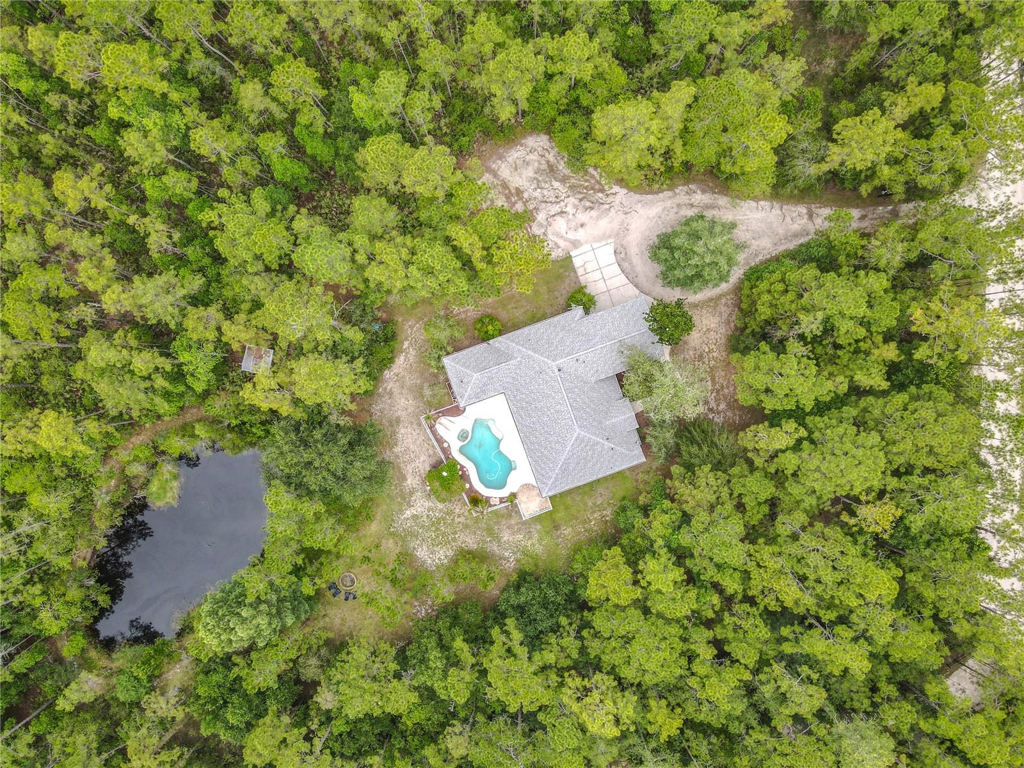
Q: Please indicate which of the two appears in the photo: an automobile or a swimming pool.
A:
swimming pool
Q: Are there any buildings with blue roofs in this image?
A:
No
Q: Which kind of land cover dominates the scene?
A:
trees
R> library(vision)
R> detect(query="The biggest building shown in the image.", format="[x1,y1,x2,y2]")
[442,293,667,499]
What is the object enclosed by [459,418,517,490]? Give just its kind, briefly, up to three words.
swimming pool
